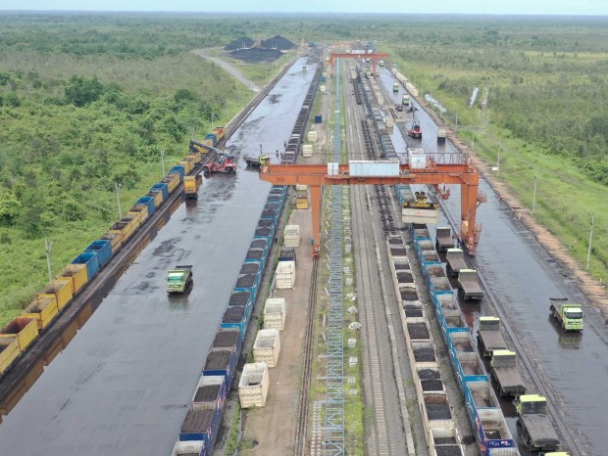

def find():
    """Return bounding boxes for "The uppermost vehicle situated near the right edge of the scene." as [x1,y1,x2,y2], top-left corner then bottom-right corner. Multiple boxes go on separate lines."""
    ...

[548,298,583,328]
